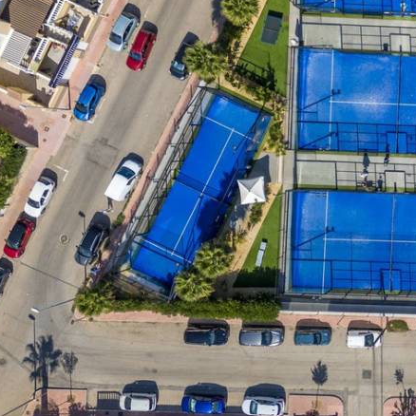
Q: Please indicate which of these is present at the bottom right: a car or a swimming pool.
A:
car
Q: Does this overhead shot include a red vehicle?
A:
Yes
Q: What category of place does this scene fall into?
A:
sports ground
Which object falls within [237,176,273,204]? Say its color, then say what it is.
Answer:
white gazebo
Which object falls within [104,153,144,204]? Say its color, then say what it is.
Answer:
white car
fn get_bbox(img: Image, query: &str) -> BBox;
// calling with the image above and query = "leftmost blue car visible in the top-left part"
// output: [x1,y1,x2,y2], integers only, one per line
[73,77,107,120]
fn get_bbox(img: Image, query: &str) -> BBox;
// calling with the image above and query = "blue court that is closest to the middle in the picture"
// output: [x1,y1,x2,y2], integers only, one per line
[109,84,278,302]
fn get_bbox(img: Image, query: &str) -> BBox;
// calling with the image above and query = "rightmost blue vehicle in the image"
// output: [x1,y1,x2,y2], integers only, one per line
[293,326,333,349]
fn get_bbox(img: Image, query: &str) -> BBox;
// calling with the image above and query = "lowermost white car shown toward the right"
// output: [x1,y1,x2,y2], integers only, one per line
[241,395,286,416]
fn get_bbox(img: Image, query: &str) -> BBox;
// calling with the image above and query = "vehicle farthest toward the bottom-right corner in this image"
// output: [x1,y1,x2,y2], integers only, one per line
[346,328,383,349]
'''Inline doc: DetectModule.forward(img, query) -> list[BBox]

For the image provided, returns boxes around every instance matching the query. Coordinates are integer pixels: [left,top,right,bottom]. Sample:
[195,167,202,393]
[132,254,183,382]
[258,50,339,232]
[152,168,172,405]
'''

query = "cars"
[126,26,161,71]
[170,35,201,77]
[108,7,142,53]
[118,390,161,413]
[181,392,228,416]
[24,170,60,217]
[73,77,107,120]
[74,214,112,264]
[182,325,231,349]
[346,328,383,349]
[3,215,38,258]
[241,395,286,416]
[104,153,144,204]
[238,326,286,350]
[293,326,333,349]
